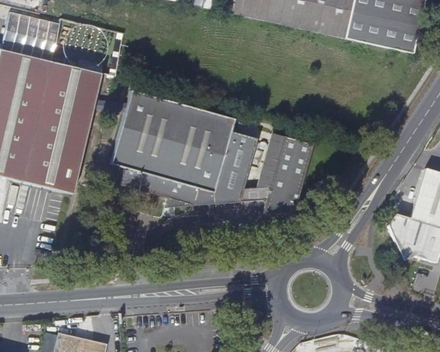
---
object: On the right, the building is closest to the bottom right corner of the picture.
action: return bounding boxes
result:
[388,214,440,264]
